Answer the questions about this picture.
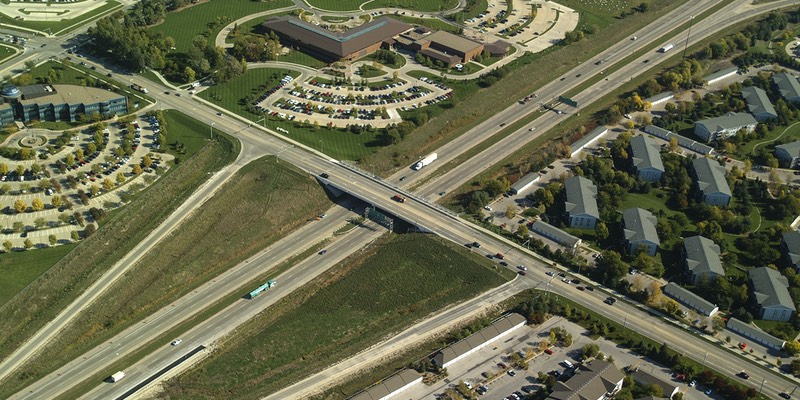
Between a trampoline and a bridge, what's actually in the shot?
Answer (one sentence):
I can see a bridge in this picture.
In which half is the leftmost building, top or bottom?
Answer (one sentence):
The leftmost building is in the top half of the image.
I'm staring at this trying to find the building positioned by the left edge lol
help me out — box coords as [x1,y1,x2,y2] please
[0,84,129,132]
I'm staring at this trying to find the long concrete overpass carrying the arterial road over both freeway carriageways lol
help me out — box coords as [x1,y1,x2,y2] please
[326,154,484,230]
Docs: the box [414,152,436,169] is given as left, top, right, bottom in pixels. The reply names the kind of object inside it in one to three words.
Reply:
vehicle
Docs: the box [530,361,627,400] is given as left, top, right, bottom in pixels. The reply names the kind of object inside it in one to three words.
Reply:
building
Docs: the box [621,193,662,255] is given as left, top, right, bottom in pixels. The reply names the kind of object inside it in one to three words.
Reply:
building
